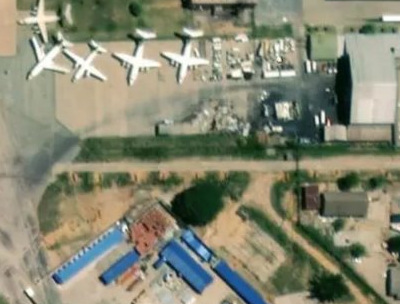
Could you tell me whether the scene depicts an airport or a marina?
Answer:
airport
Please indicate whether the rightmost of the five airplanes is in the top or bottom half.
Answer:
top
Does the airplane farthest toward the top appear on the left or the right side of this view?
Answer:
left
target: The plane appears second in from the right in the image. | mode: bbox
[116,31,163,83]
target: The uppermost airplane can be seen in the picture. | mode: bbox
[19,0,70,41]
